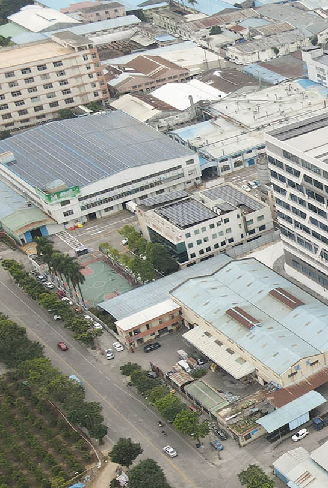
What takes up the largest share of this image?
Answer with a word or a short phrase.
buildings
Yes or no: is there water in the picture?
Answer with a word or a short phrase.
No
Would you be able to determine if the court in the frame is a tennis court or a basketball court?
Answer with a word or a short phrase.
basketball court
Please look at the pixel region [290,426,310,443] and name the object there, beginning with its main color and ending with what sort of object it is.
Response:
white car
